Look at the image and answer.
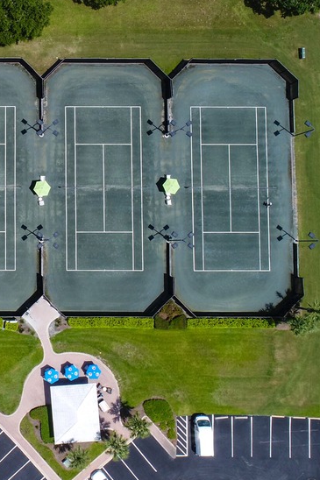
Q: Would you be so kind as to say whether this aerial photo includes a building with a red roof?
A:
No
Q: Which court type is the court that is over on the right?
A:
tennis court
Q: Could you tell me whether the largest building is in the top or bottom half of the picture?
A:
bottom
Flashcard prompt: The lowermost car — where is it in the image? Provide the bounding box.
[93,468,112,480]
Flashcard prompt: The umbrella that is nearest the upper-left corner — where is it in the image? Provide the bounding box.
[34,180,50,197]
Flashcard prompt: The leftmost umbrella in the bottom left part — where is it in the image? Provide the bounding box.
[45,368,59,384]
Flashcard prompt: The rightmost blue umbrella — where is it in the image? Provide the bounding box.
[87,366,101,379]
